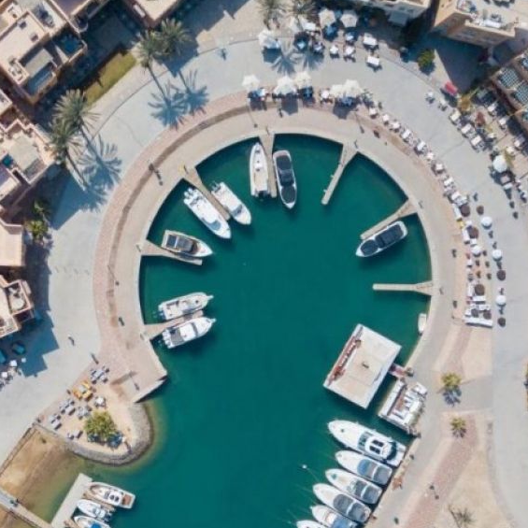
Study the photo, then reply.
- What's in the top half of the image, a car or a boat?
boat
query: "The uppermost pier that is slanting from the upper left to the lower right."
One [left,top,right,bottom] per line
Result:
[184,168,230,220]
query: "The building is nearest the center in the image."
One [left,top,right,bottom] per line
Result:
[323,324,401,409]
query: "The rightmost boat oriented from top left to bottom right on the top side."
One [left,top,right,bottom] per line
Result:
[210,183,249,224]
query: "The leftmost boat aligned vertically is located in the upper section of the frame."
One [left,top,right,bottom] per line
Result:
[248,142,268,199]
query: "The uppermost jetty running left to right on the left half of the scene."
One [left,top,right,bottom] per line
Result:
[141,240,203,265]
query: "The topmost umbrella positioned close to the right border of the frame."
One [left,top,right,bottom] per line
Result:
[492,157,507,171]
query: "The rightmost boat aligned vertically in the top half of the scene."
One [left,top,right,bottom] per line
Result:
[273,148,295,209]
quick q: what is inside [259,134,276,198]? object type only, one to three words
pier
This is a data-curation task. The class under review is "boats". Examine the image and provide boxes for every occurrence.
[161,317,218,348]
[183,187,230,238]
[75,515,113,528]
[312,484,376,527]
[210,183,249,224]
[273,148,295,209]
[161,230,214,257]
[78,500,112,520]
[325,470,383,507]
[248,142,268,199]
[335,451,397,488]
[327,419,411,470]
[89,483,134,508]
[356,222,409,255]
[155,293,216,322]
[310,505,358,528]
